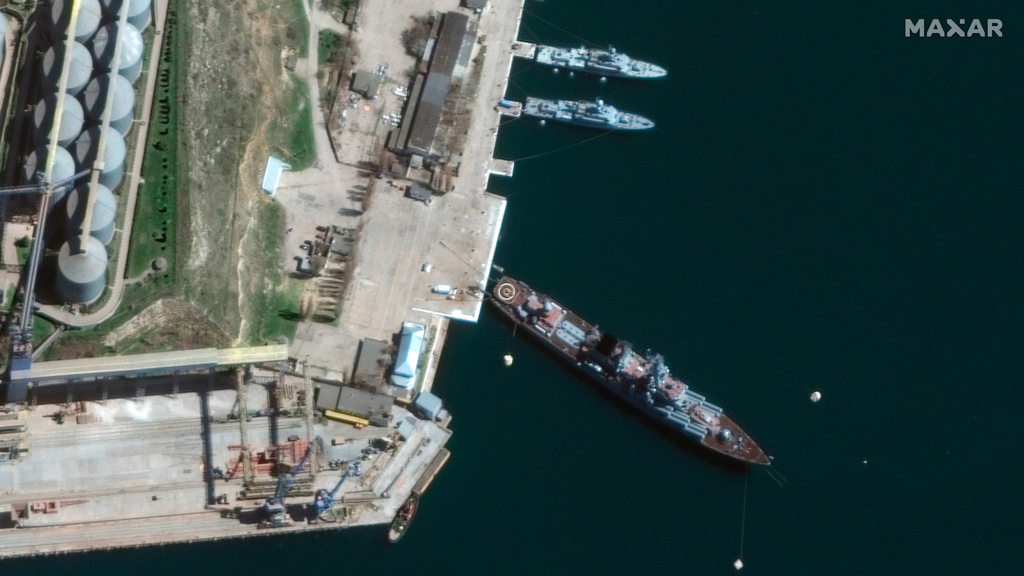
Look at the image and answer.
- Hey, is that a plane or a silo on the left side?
silo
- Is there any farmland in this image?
No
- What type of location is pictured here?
port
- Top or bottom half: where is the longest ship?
bottom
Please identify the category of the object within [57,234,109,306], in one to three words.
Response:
silo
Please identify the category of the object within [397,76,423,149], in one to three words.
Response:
building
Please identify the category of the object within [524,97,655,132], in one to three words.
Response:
ship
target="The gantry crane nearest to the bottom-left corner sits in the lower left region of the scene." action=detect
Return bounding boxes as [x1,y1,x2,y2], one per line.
[0,410,28,467]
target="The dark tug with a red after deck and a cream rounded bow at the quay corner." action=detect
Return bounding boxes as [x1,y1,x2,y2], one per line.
[387,492,421,545]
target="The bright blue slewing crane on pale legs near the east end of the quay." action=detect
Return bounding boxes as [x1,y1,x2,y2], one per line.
[313,456,363,523]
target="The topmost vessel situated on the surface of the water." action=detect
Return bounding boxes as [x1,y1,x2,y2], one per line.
[536,46,668,79]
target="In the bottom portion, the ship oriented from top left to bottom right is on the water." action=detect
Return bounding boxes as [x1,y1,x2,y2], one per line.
[491,276,771,474]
